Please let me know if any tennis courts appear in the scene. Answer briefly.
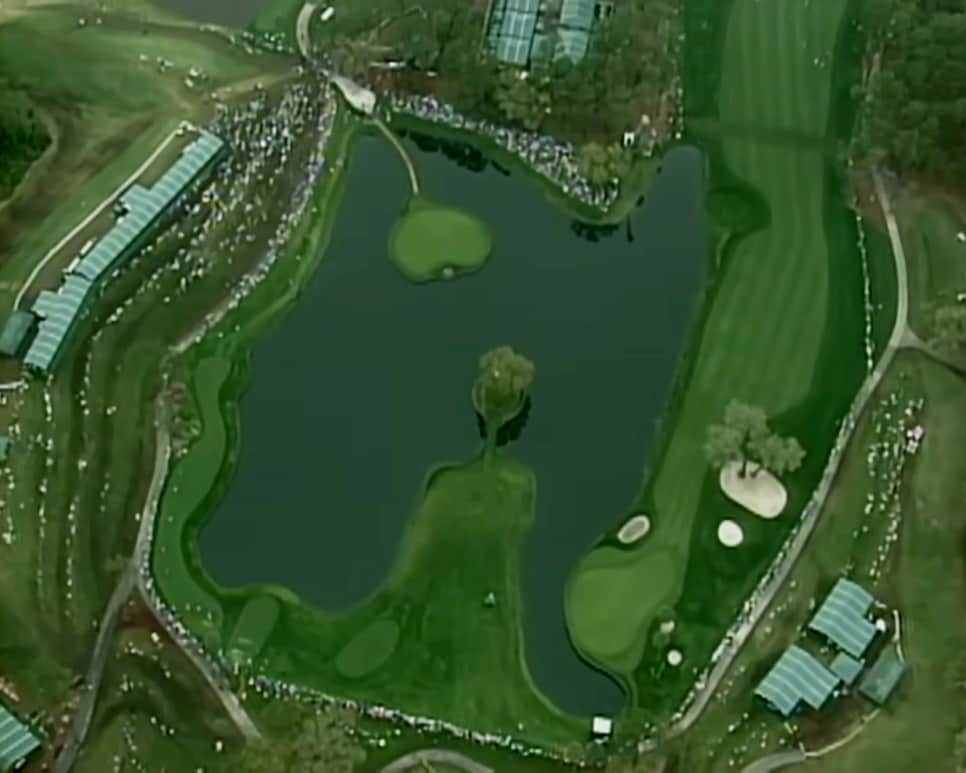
No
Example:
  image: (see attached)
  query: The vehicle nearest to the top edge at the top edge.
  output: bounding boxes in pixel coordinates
[322,6,334,18]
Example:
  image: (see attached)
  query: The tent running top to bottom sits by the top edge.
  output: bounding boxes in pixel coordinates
[530,35,547,69]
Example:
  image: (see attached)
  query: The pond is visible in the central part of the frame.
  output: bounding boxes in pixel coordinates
[199,131,710,720]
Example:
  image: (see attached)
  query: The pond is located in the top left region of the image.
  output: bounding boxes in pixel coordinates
[152,0,268,28]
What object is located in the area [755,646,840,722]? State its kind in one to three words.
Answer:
building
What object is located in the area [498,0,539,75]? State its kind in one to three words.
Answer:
building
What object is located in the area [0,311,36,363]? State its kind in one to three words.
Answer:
tent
